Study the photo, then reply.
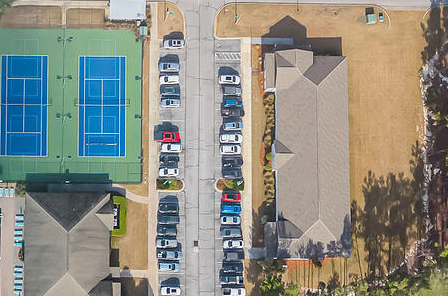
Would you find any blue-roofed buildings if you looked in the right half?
No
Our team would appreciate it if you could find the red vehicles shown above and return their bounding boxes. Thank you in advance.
[155,133,180,143]
[221,193,242,203]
